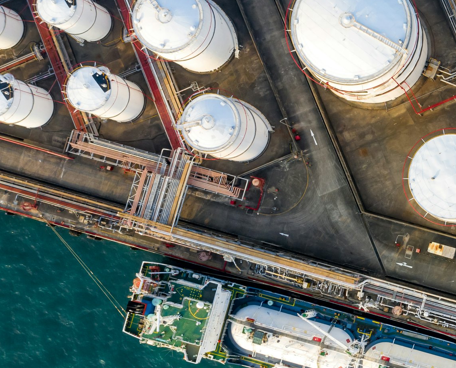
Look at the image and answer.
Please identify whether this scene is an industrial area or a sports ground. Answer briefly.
industrial area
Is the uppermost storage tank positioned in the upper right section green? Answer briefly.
No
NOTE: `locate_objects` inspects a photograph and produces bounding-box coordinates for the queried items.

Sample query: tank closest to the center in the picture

[174,89,275,164]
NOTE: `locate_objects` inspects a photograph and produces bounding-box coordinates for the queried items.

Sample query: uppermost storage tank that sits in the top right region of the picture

[285,0,430,114]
